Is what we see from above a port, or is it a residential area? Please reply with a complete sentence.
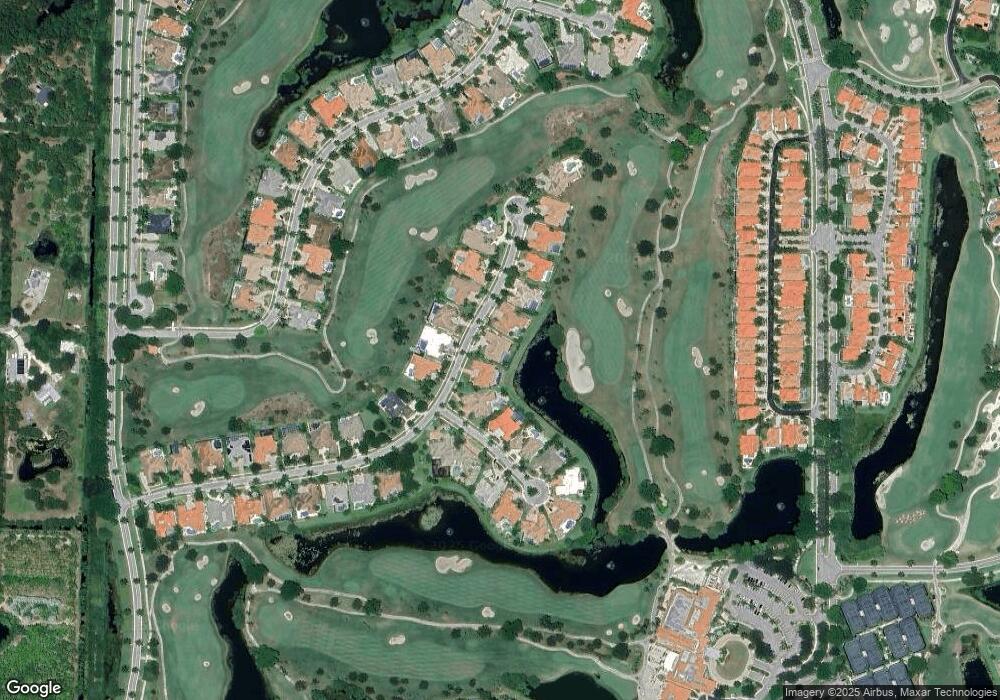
The area seen from above is a residential area.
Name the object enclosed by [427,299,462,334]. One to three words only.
house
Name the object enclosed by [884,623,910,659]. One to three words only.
tennis court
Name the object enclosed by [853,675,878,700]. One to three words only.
tennis court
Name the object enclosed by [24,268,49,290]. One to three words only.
house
